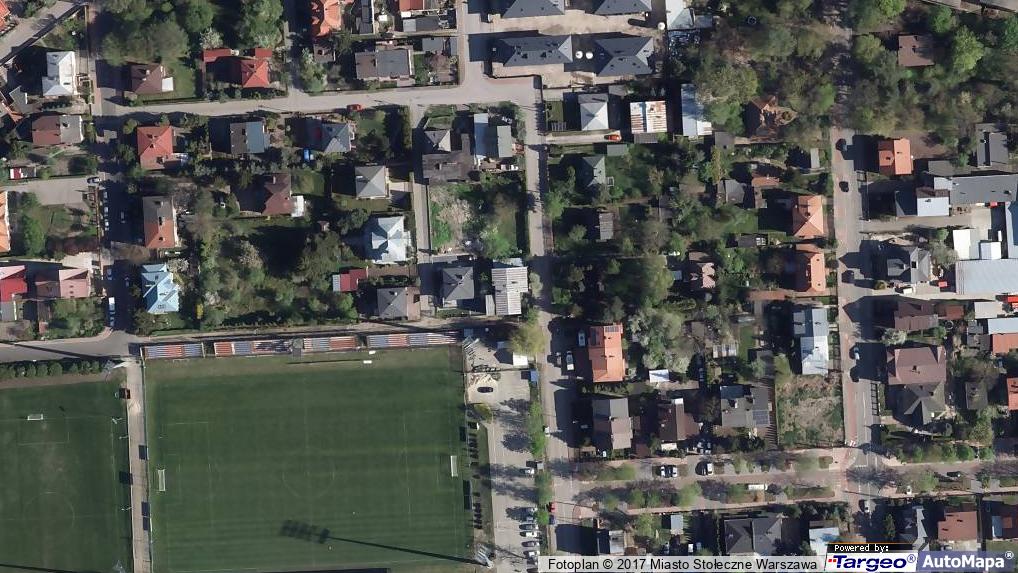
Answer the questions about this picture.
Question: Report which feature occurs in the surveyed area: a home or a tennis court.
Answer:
home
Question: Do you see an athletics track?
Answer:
No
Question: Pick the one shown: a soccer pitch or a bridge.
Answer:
soccer pitch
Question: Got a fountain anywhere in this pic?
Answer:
No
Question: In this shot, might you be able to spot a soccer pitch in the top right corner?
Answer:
No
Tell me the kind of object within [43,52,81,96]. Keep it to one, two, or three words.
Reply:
house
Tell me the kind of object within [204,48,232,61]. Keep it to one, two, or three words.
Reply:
shed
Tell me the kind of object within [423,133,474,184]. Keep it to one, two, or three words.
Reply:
building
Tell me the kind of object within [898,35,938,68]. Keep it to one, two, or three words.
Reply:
house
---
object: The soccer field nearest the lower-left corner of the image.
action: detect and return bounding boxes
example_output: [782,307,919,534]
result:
[0,382,133,573]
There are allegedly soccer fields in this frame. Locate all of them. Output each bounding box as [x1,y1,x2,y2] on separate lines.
[0,382,133,573]
[144,343,476,573]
